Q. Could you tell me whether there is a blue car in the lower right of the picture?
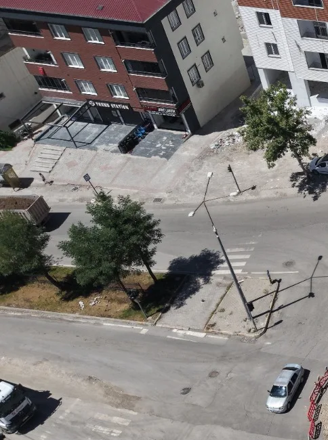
No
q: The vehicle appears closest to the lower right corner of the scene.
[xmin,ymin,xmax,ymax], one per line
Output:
[261,361,309,416]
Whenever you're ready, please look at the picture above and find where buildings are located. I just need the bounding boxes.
[0,0,254,133]
[237,0,328,102]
